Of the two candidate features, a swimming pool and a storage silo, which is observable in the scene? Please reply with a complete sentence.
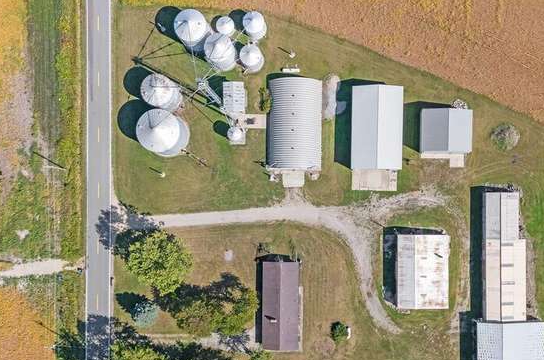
Of the two, only a storage silo appears.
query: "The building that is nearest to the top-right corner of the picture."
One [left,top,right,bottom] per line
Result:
[418,107,473,153]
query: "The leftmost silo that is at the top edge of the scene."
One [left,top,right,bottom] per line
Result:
[174,11,213,59]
